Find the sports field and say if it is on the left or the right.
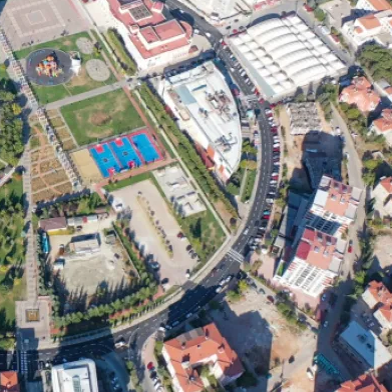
left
